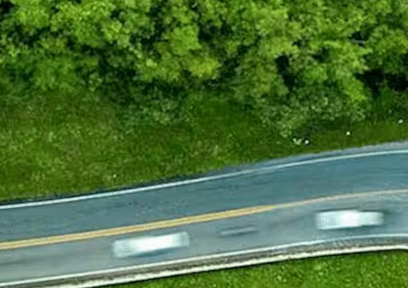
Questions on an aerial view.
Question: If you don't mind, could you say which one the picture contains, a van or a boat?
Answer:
van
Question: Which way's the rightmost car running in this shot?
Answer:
from side to side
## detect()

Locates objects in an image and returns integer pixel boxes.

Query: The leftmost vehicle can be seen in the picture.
[116,231,187,261]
